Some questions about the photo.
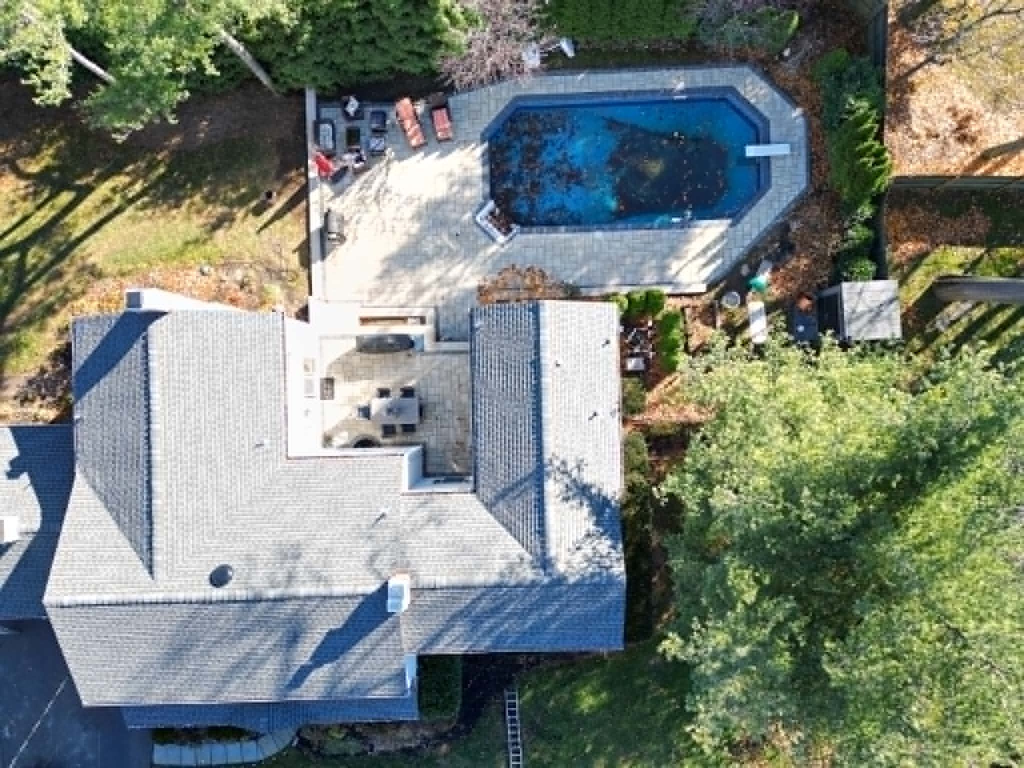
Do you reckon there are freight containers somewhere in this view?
No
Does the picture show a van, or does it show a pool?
pool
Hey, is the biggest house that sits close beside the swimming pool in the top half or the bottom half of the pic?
bottom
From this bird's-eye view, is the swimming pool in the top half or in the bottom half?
top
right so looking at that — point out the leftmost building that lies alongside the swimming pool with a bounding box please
[38,286,633,731]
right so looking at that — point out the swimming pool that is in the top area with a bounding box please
[475,82,772,244]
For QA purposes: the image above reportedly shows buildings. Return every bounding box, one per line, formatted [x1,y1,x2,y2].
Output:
[38,286,633,731]
[817,279,902,344]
